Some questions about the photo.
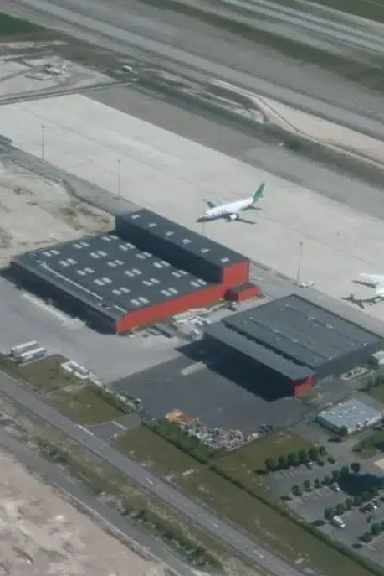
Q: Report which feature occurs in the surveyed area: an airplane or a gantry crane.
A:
airplane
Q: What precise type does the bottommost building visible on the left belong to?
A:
warehouse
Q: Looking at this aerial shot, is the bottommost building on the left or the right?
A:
right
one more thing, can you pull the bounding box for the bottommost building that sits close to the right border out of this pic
[318,397,384,437]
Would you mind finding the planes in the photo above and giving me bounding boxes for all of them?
[358,273,384,296]
[203,183,265,220]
